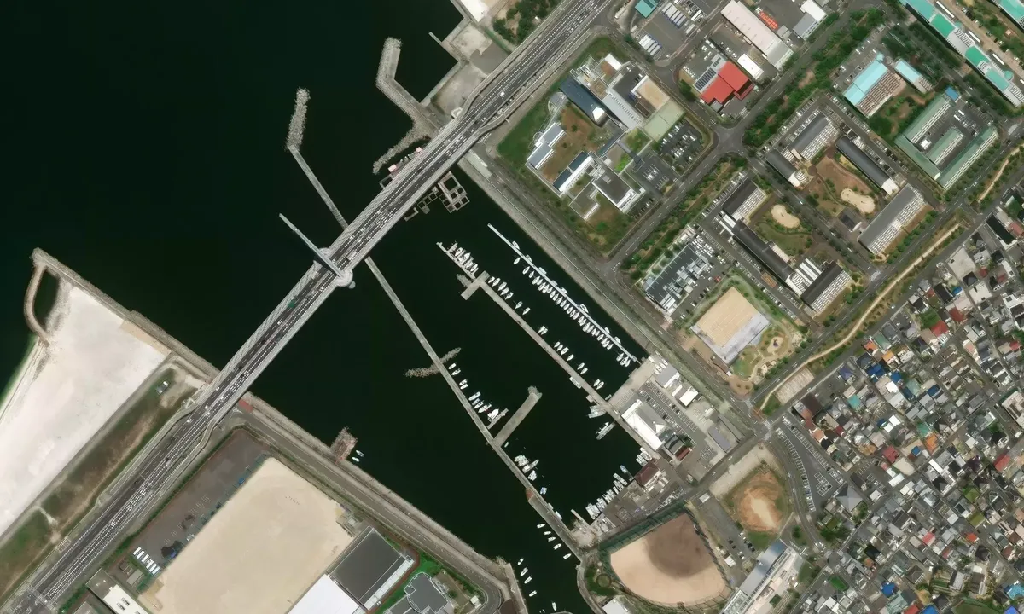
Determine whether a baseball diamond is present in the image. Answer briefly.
Yes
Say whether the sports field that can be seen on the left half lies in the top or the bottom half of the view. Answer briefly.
bottom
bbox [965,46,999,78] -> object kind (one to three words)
building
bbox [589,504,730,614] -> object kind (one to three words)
baseball field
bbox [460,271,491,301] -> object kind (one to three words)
pier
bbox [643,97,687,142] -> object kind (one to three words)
building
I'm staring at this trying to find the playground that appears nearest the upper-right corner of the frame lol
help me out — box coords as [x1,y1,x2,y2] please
[841,188,875,212]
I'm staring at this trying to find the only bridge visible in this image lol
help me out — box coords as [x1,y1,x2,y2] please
[15,0,610,614]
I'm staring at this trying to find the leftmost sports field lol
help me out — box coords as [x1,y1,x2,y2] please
[136,455,351,614]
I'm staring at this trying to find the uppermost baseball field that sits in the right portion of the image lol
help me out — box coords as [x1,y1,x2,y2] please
[733,461,788,533]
